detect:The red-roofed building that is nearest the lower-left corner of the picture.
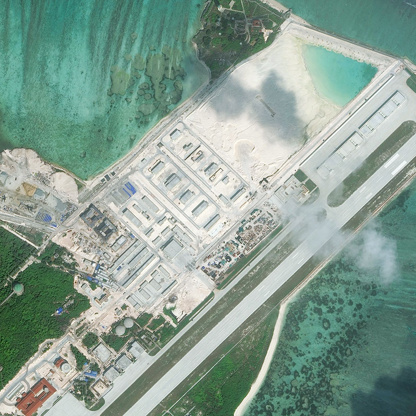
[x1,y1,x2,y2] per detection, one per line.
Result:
[15,378,57,416]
